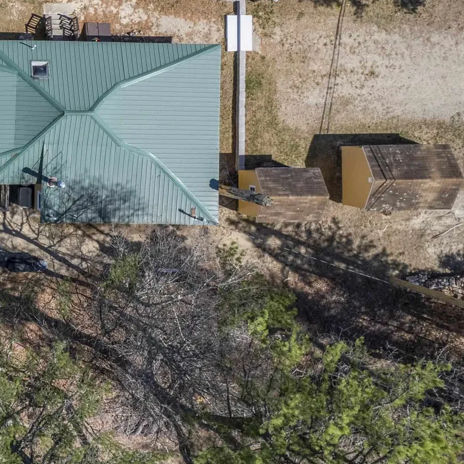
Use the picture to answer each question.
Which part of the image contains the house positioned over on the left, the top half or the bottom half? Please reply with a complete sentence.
You can find the house positioned over on the left in the top half.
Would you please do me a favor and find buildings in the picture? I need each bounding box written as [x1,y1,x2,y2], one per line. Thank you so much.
[0,40,221,228]
[342,144,464,210]
[237,165,329,222]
